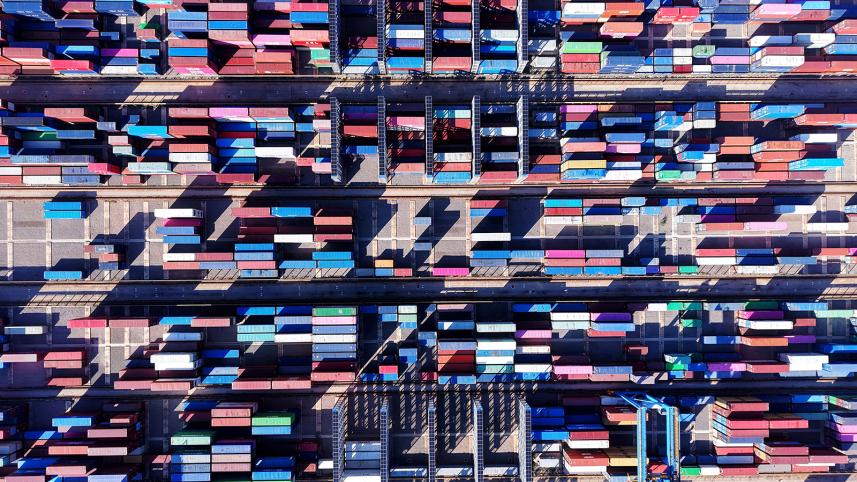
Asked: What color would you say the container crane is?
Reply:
blue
